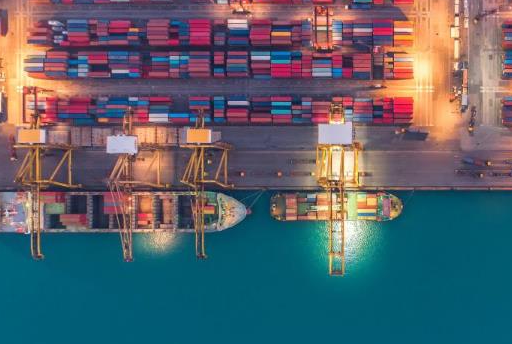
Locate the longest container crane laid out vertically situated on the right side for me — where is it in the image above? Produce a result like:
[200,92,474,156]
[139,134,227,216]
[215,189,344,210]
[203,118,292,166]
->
[316,99,368,281]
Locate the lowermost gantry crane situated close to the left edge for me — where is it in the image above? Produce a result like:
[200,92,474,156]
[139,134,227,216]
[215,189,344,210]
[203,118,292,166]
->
[11,110,90,260]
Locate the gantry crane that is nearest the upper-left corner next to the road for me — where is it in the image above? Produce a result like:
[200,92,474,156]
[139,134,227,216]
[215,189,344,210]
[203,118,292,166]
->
[22,85,62,129]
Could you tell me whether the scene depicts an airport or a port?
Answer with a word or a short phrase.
port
